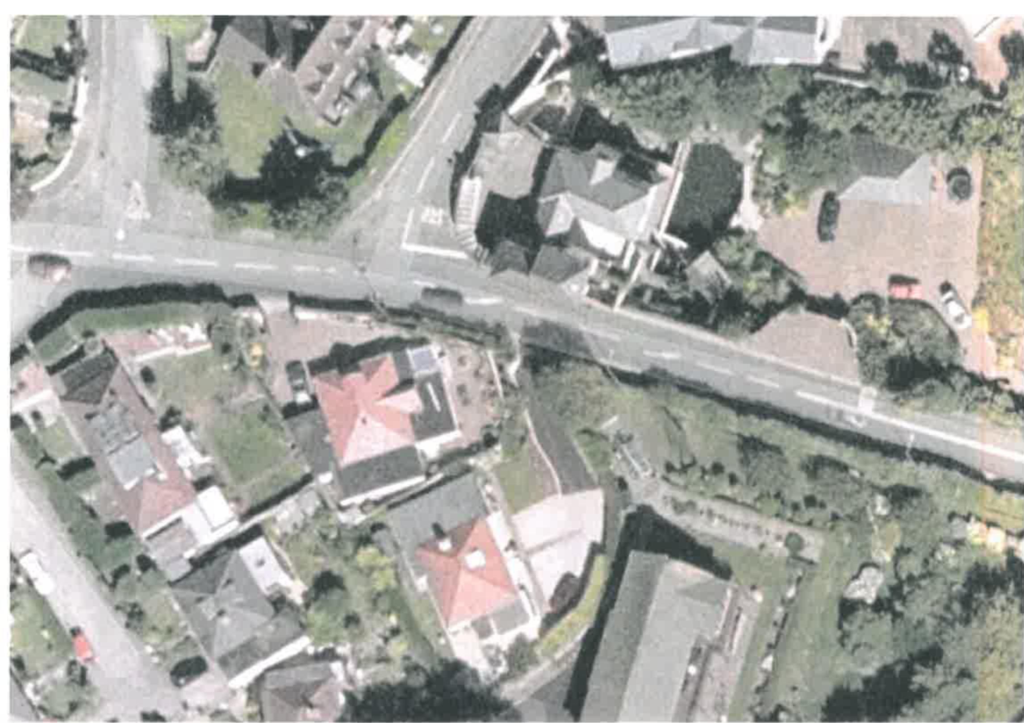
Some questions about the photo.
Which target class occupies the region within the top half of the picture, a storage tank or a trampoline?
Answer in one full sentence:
Looking within the top half of the picture, you will find a trampoline.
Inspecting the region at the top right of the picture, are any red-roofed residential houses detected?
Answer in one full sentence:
No, no red-roofed residential house can be made out at the top right of the picture.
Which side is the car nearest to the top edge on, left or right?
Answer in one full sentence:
It is on the right.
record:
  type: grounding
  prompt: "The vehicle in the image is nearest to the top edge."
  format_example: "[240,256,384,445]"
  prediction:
[815,196,842,242]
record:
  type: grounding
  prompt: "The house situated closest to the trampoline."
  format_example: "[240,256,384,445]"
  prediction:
[837,147,932,204]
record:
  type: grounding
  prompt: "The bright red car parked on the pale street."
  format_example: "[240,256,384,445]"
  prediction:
[70,627,97,668]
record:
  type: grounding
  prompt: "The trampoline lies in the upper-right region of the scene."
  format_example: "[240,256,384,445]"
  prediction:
[946,171,971,196]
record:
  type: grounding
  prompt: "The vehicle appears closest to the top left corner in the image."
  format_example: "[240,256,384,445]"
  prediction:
[30,258,71,282]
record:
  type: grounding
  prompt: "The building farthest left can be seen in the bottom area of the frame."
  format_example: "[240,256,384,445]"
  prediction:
[55,352,212,583]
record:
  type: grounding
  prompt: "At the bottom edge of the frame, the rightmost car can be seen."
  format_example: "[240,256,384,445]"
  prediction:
[168,658,212,687]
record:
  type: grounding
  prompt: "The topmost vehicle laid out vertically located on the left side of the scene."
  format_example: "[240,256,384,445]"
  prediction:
[287,362,310,403]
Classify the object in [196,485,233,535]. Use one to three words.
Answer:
building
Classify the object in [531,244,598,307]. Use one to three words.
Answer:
house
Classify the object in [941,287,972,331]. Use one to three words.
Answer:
car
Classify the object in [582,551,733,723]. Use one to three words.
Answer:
barn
